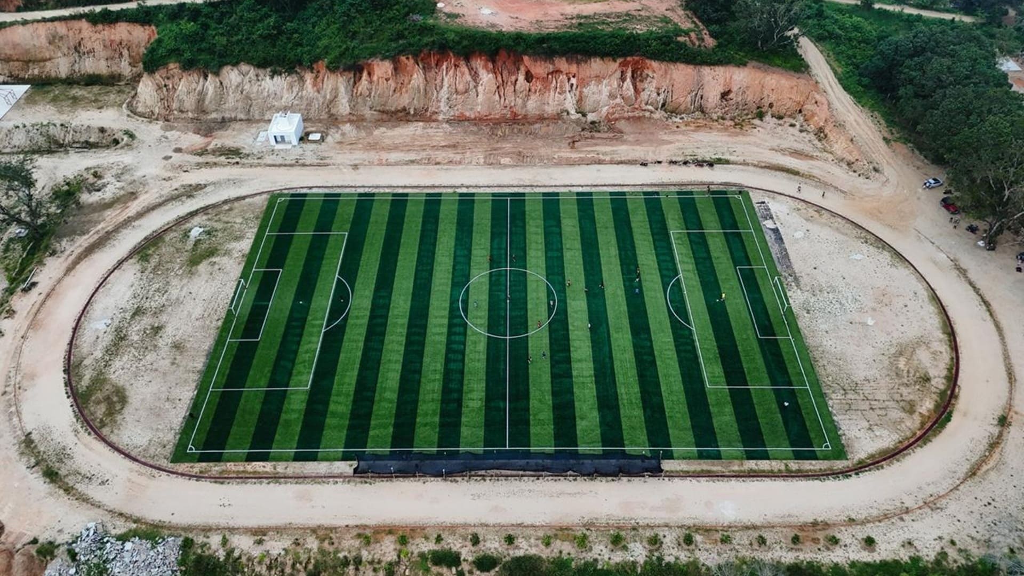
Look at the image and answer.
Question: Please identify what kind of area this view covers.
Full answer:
The picture captures a sports ground.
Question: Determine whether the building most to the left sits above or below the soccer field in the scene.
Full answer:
The building most to the left is located above the soccer field in this view.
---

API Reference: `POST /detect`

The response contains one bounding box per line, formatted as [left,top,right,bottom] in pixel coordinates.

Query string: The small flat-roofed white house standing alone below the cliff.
[269,111,306,142]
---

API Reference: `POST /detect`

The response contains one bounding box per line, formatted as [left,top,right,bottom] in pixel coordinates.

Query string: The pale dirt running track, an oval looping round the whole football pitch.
[11,161,1012,532]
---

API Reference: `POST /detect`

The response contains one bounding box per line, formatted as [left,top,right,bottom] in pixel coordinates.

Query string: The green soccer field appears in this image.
[168,191,846,462]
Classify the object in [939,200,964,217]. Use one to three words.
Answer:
vehicle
